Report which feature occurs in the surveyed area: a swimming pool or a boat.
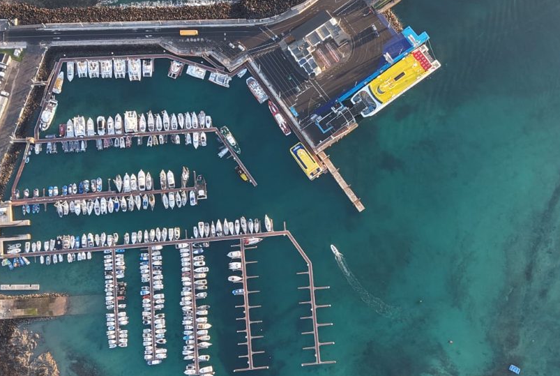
boat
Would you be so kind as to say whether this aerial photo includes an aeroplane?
No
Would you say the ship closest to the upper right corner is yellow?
Yes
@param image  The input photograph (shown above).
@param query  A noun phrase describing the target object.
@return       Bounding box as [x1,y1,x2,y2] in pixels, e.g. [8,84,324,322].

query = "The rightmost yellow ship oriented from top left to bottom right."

[294,147,322,180]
